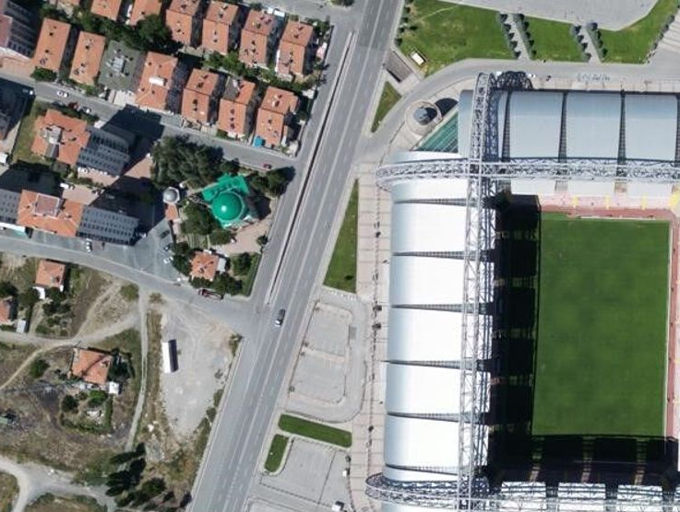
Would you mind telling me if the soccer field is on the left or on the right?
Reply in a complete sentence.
You can find the soccer field on the right side of the picture.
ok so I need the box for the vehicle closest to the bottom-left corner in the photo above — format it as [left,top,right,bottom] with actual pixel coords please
[163,341,175,372]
